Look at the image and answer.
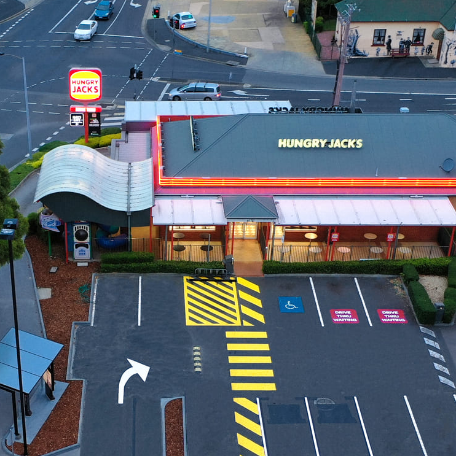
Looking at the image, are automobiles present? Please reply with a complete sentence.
Yes, the frame does contain an automobile.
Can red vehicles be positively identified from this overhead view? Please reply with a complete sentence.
No, there's no red vehicle here.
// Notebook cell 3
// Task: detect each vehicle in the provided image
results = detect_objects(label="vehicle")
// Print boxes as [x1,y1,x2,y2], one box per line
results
[169,10,199,29]
[71,18,100,38]
[168,78,222,102]
[90,0,115,19]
